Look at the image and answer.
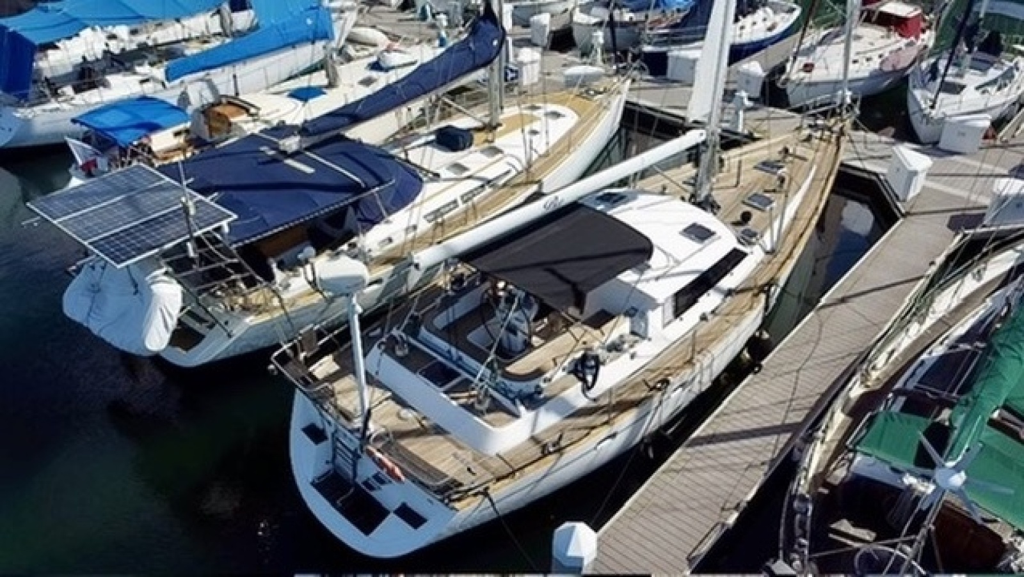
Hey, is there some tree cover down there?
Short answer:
No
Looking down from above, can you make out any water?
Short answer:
Yes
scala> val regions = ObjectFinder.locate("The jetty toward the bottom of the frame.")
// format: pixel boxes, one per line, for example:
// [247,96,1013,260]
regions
[550,181,981,577]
